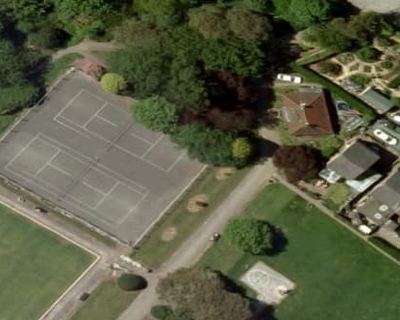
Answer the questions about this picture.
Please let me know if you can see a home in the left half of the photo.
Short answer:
No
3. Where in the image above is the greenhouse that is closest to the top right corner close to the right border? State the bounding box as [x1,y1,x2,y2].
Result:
[360,88,394,114]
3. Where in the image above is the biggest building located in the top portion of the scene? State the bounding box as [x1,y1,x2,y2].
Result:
[281,88,336,136]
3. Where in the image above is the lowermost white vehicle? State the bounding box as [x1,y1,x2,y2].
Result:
[374,128,398,145]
